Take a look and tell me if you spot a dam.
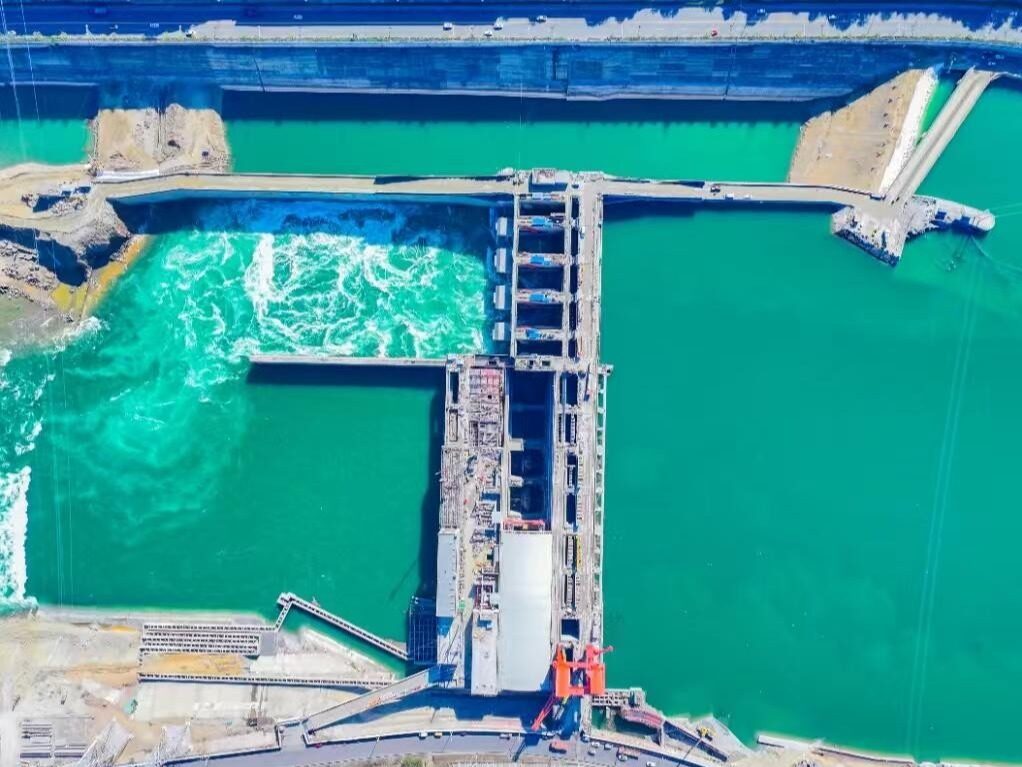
Yes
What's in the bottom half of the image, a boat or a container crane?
container crane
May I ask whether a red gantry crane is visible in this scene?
Yes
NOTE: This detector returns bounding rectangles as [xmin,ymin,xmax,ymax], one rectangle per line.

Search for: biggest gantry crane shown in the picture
[532,636,613,731]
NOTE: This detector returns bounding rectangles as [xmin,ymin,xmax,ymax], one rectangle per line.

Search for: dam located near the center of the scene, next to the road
[495,168,626,742]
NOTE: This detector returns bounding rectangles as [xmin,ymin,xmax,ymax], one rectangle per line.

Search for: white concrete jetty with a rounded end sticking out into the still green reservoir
[914,198,994,233]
